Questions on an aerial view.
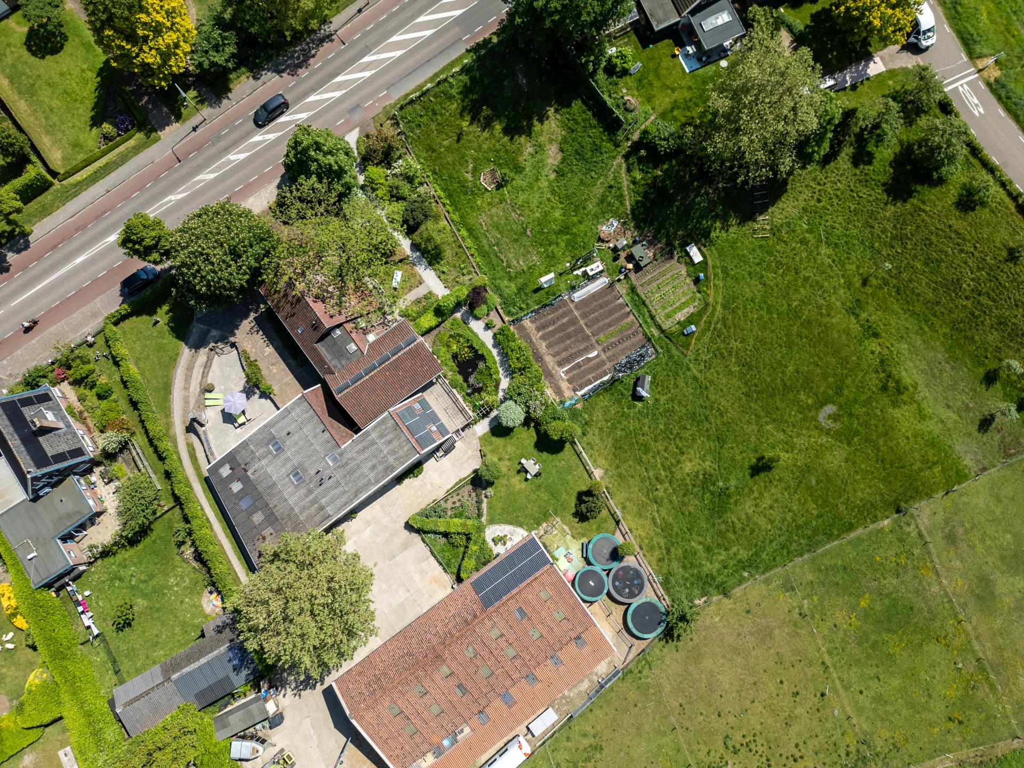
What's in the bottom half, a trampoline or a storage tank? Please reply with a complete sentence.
The one visible in the bottom half is a trampoline.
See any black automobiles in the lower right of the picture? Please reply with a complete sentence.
No, no black automobile appears in the lower right of the picture.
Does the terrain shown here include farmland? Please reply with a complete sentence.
Yes, farmland shows up in the scene.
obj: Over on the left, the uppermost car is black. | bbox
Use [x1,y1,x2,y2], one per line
[253,96,289,125]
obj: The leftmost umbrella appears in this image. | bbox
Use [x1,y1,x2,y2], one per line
[225,392,249,416]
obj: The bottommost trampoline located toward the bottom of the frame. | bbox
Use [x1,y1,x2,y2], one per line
[625,596,667,639]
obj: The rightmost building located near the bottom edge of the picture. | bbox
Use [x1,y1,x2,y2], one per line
[331,532,617,768]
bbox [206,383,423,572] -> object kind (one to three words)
building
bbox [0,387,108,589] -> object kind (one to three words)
house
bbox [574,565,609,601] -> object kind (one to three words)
trampoline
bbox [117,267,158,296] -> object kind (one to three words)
car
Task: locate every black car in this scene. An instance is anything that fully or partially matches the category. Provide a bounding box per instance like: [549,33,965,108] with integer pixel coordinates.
[253,96,289,125]
[117,267,158,296]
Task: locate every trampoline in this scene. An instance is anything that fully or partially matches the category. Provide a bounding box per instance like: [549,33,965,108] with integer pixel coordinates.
[574,565,609,601]
[608,561,649,604]
[587,533,622,569]
[625,596,667,639]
